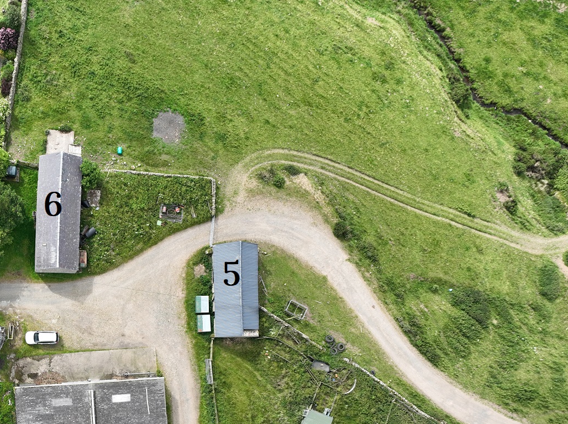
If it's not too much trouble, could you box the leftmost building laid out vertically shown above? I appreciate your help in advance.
[32,150,82,274]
